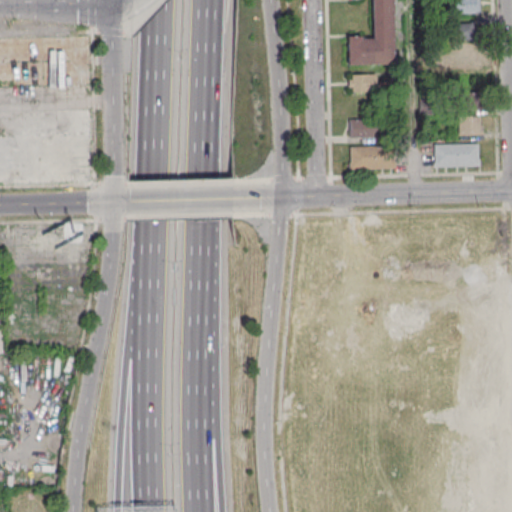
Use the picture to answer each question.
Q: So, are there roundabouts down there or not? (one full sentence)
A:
No, there is no roundabout in the image.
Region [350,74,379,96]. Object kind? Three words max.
house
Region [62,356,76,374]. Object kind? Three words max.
vehicle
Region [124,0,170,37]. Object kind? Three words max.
overpass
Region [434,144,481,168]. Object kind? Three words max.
building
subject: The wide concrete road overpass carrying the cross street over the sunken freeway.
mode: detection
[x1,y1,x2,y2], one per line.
[126,178,234,220]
